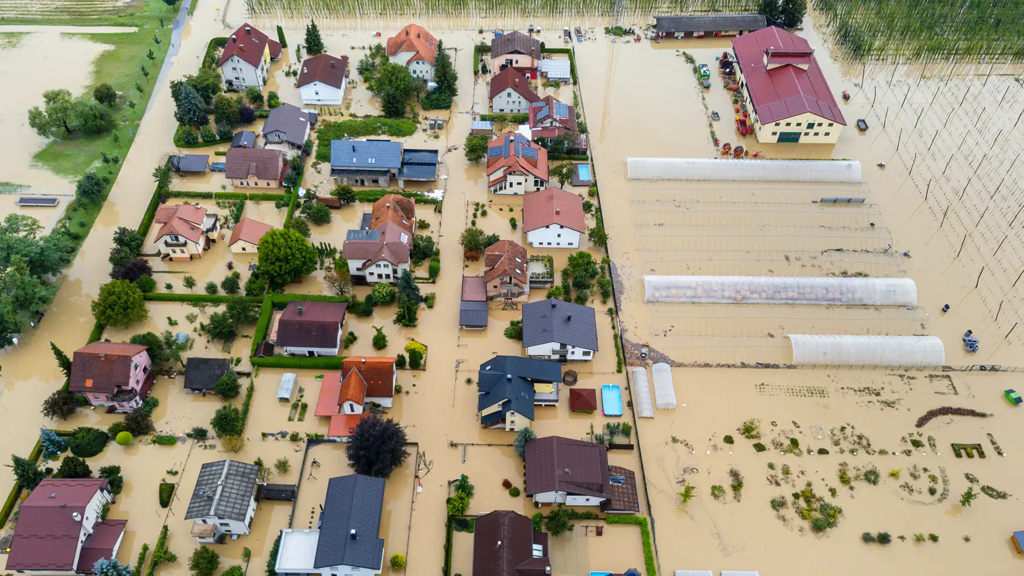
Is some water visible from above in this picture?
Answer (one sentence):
Yes, water shows up in the scene.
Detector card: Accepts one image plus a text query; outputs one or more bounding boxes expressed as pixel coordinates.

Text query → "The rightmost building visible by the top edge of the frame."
[733,26,847,144]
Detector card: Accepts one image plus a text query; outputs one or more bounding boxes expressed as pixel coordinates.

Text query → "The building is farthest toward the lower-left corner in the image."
[5,479,130,576]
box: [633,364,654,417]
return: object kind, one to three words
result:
greenhouse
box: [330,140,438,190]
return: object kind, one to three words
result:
house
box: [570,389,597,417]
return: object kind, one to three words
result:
gazebo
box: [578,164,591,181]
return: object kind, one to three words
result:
swimming pool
